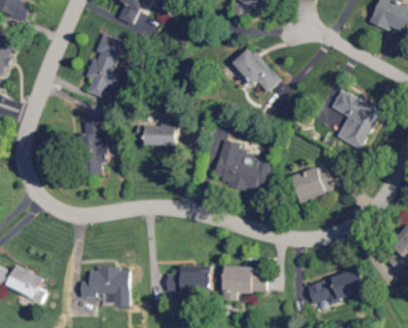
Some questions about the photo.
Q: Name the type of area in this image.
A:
residential area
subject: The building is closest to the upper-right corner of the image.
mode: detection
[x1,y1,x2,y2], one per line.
[374,0,408,32]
